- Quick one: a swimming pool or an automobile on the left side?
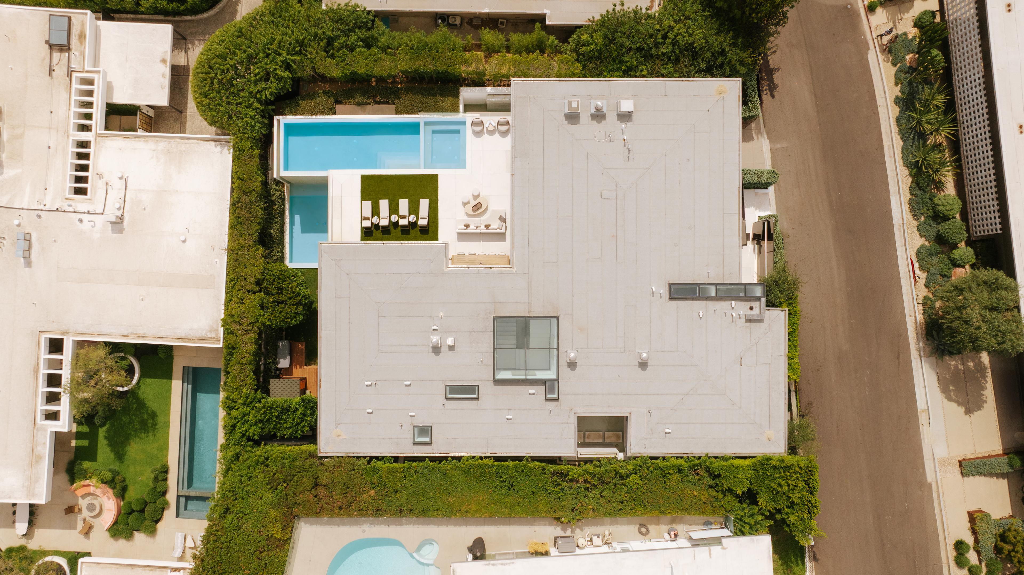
swimming pool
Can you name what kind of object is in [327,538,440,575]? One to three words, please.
swimming pool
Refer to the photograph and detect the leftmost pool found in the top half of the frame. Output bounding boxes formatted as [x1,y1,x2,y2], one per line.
[270,174,329,268]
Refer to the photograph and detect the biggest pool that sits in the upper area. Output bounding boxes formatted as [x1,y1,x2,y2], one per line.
[274,116,479,190]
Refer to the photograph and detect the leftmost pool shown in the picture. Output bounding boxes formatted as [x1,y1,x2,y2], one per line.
[176,366,243,525]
